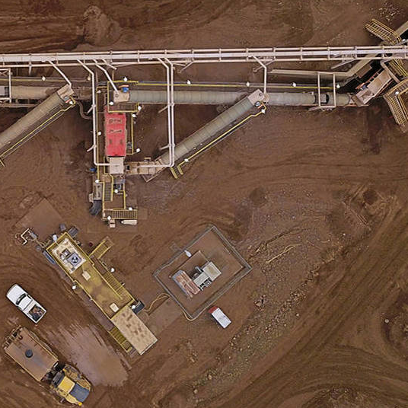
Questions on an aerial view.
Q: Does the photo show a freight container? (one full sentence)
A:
Yes, you can see a freight container in this photo.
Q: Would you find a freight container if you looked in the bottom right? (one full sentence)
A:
No, no freight container is visible in the bottom right.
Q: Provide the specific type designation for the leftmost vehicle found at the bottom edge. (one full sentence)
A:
Looking closely, the leftmost vehicle found at the bottom edge is a truck.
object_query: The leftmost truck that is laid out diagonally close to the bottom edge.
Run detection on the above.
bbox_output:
[1,323,86,403]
